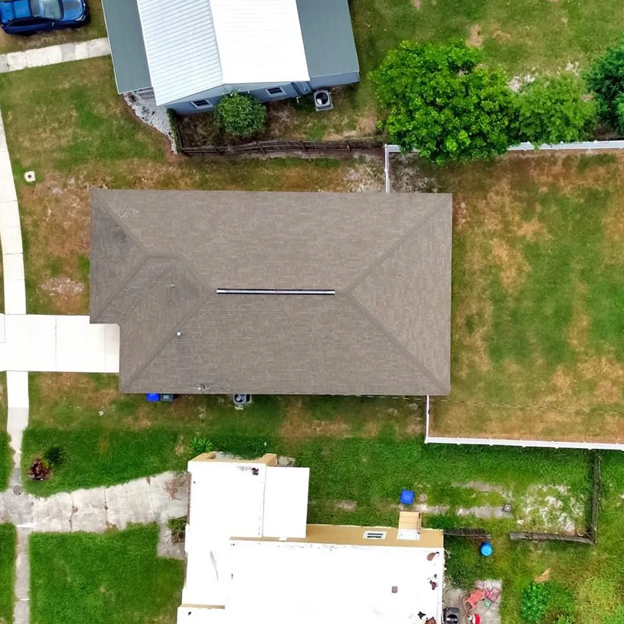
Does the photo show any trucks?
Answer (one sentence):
No, the scene contains no truck.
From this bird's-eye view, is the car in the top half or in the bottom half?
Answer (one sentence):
The car sits in the top half of the picture.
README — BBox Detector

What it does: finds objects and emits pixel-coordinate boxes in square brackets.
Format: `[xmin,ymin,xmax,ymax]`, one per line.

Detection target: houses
[176,460,444,624]
[101,0,361,113]
[89,187,453,397]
